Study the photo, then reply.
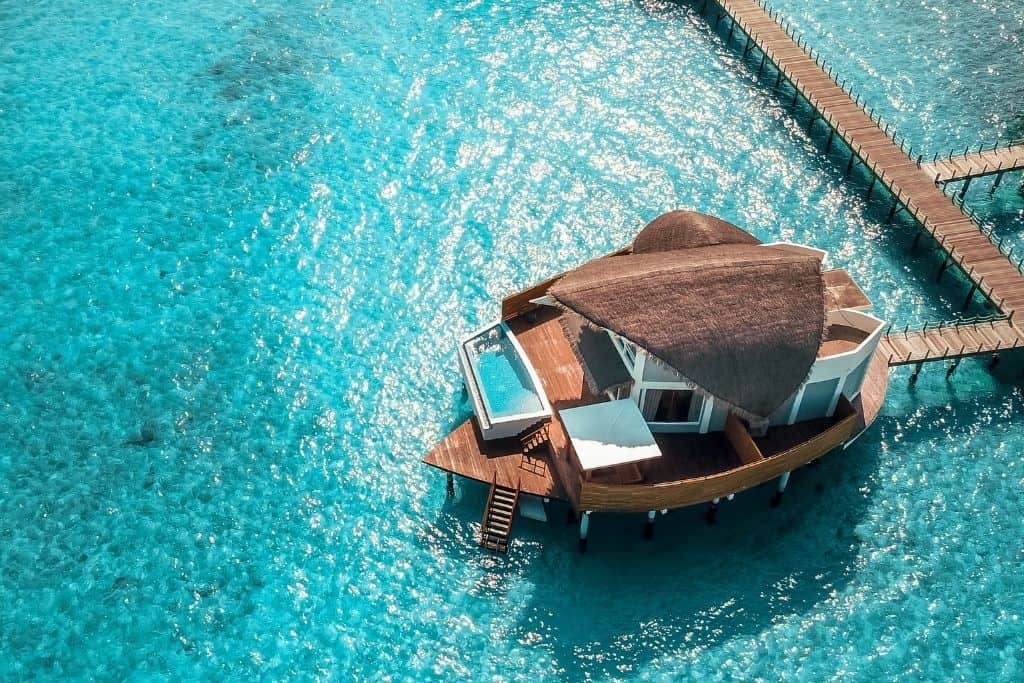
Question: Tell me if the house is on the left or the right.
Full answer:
The house appears in the right half of the scene.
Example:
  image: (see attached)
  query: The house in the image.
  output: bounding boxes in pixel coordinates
[503,209,890,547]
